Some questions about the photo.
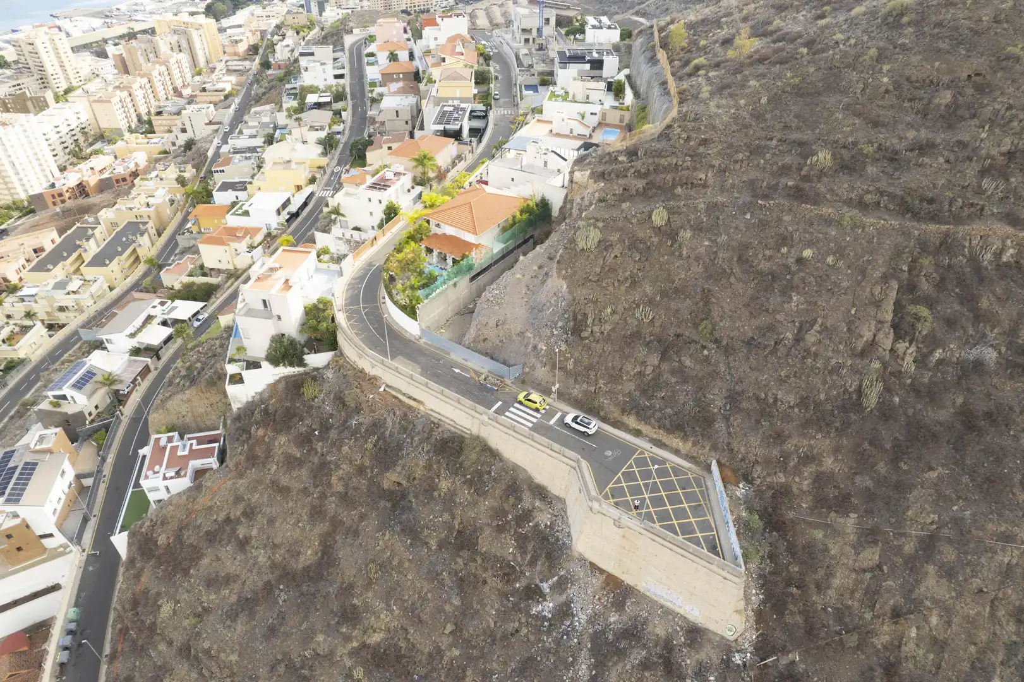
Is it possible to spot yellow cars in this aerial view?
Yes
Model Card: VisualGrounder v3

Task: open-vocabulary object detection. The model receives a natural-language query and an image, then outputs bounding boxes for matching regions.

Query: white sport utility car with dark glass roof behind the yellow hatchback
[564,416,598,438]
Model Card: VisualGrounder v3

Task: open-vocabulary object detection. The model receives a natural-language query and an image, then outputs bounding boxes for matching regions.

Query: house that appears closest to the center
[420,182,531,264]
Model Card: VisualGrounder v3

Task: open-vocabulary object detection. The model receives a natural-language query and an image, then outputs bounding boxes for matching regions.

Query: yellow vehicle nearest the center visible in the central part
[519,394,548,413]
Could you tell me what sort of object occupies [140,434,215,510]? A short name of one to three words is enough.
house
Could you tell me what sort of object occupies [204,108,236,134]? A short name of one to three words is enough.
building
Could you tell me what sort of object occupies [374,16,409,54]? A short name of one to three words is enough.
house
